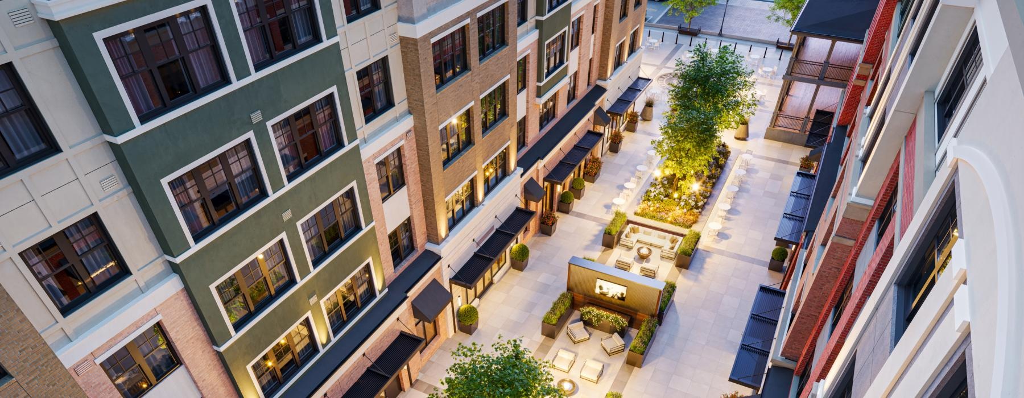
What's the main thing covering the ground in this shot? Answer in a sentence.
What you mostly see from above here is buildings.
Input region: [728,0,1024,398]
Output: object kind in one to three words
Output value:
building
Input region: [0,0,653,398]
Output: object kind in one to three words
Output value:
building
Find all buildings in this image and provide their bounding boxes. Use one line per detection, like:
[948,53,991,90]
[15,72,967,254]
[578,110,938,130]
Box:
[728,0,1024,398]
[0,0,653,398]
